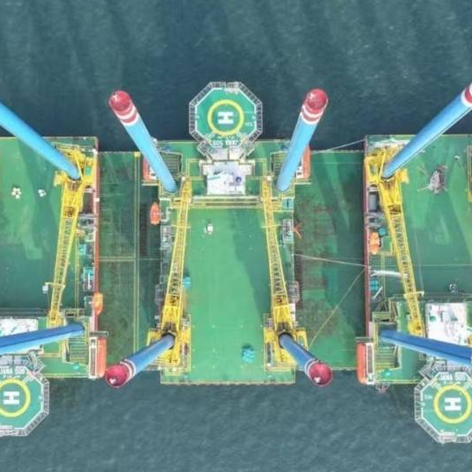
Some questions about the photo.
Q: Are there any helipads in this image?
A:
Yes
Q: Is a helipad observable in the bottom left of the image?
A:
Yes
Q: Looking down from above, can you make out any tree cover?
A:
No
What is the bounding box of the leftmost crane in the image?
[47,141,103,326]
